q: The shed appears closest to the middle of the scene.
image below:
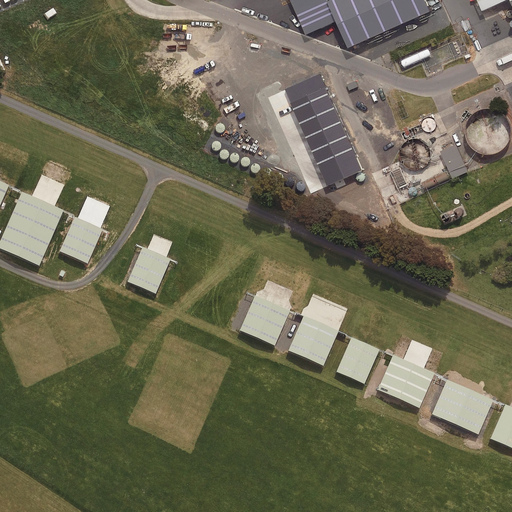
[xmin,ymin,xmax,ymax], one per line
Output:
[240,296,290,345]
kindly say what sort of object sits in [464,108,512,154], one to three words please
storage tank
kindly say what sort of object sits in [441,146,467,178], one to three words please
building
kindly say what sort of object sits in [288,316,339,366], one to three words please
shed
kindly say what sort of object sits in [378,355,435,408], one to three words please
shed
